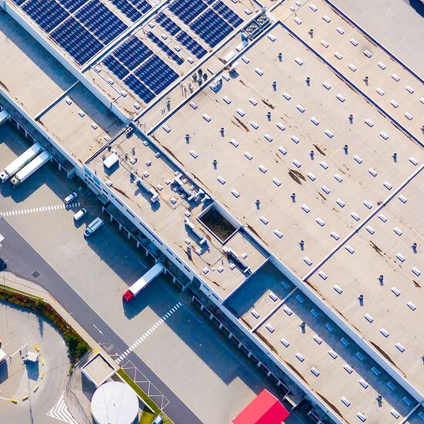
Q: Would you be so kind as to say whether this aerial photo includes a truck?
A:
Yes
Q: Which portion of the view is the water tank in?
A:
bottom left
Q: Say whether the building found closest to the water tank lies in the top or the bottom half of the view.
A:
bottom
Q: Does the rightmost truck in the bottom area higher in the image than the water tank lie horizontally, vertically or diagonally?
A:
diagonally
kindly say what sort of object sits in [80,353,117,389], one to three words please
building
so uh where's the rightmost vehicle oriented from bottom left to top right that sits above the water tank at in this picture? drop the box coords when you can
[121,265,163,303]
